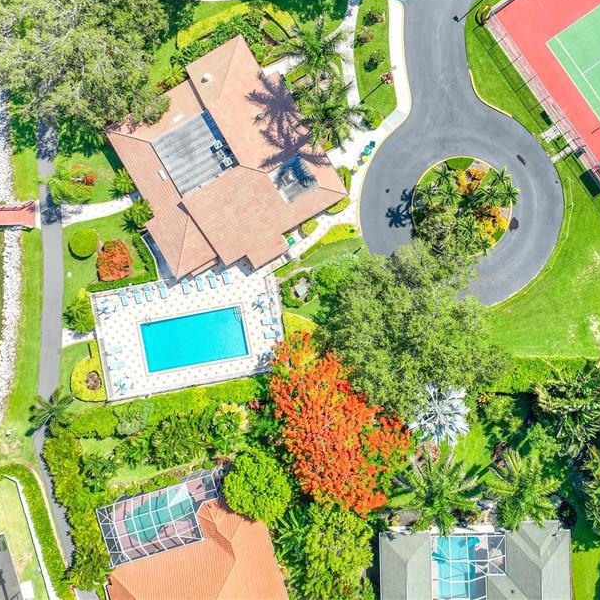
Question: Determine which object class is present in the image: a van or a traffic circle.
traffic circle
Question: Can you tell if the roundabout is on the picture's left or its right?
right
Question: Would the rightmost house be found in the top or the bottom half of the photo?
bottom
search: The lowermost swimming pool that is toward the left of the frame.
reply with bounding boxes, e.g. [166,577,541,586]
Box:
[123,484,195,544]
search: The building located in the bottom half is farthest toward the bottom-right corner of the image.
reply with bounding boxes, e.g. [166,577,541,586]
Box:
[379,514,571,600]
